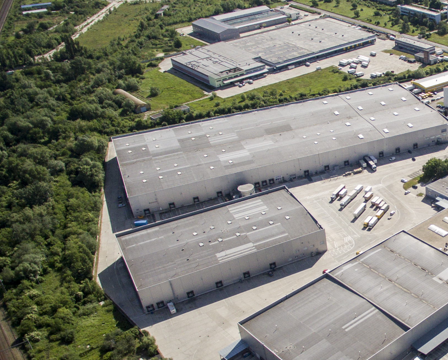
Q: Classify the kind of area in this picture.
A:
industrial area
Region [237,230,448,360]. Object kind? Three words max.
warehouse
